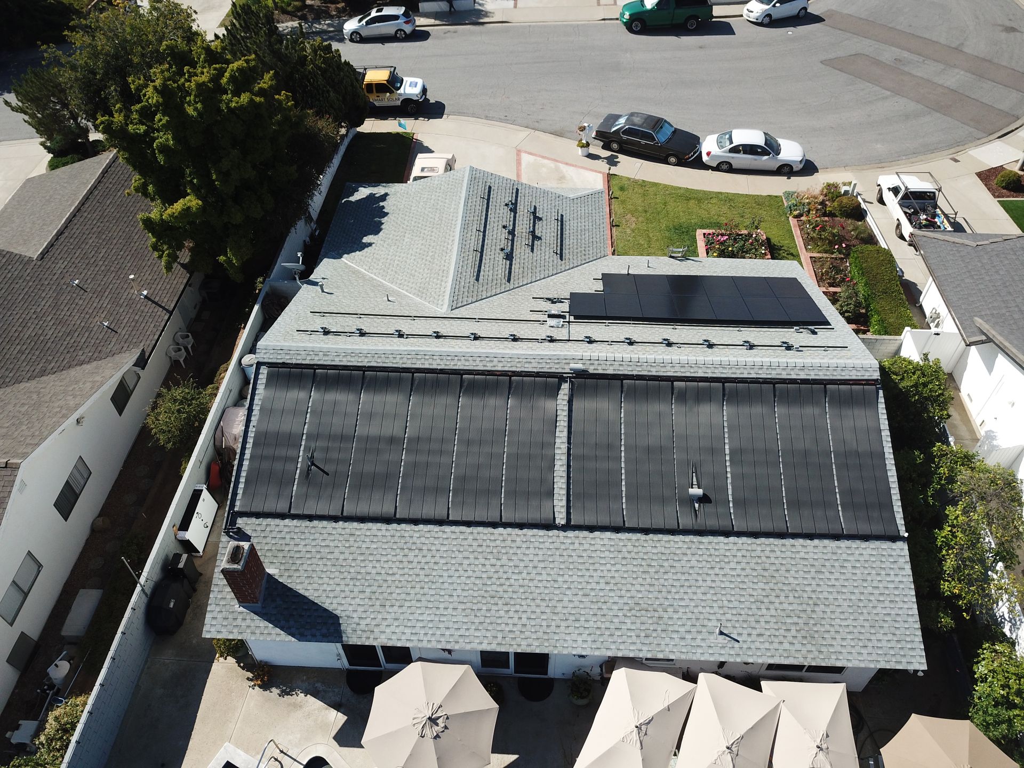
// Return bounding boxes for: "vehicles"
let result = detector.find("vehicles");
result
[619,0,718,32]
[410,155,453,183]
[327,61,430,114]
[341,6,413,43]
[702,127,809,175]
[592,111,703,165]
[877,172,962,241]
[744,0,813,25]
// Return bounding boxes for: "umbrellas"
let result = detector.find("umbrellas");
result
[675,673,777,768]
[880,713,1016,768]
[362,662,499,768]
[762,682,861,768]
[573,668,696,768]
